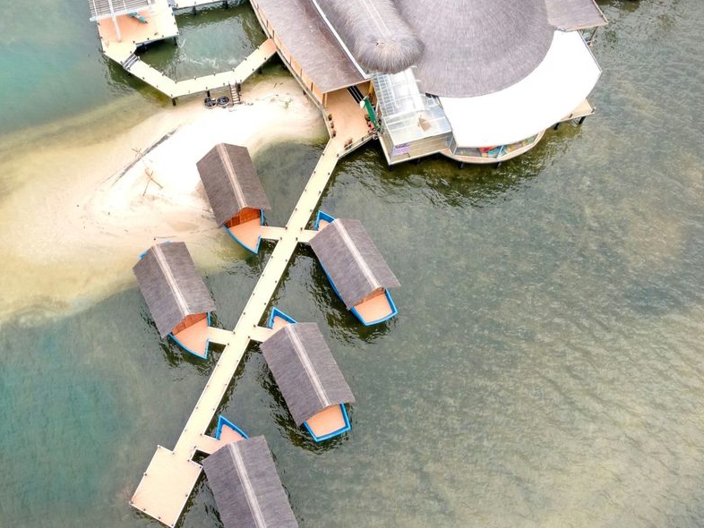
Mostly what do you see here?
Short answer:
water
